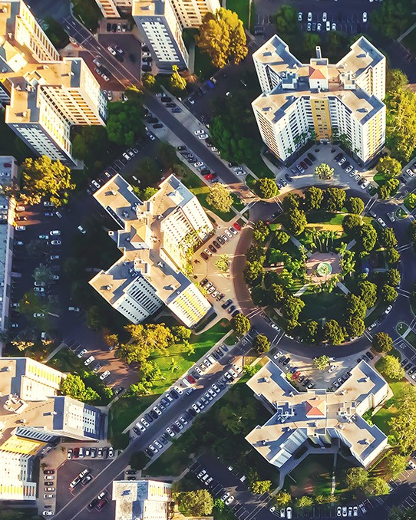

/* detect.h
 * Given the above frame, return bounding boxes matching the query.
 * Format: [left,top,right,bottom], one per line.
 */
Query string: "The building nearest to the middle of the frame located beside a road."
[90,173,210,325]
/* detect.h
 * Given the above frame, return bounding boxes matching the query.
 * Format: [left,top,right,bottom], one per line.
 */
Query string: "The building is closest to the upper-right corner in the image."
[251,36,386,164]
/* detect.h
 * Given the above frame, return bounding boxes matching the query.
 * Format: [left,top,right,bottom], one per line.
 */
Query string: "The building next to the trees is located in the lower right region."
[244,361,388,467]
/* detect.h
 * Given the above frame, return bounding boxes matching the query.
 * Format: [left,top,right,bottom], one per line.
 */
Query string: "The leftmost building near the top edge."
[0,1,107,161]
